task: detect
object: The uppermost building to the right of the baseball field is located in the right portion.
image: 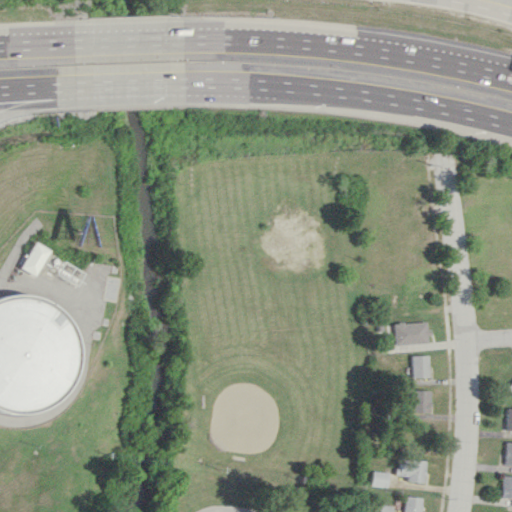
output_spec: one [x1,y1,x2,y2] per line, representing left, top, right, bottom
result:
[394,322,432,346]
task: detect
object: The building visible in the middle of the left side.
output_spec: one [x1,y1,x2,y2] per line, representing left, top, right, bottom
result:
[21,242,52,276]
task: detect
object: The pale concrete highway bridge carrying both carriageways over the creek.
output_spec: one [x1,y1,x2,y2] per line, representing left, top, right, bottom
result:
[66,16,184,112]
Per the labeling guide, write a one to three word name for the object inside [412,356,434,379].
house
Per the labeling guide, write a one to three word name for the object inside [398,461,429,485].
house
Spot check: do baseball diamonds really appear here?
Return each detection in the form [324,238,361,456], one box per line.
[178,153,360,505]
